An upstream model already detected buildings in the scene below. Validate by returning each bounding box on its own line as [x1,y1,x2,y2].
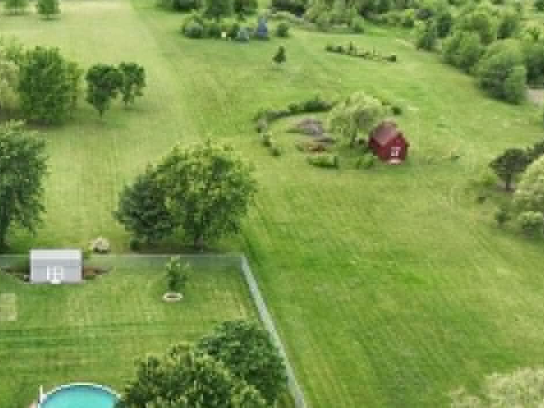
[30,248,84,287]
[370,123,412,163]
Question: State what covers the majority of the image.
grass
